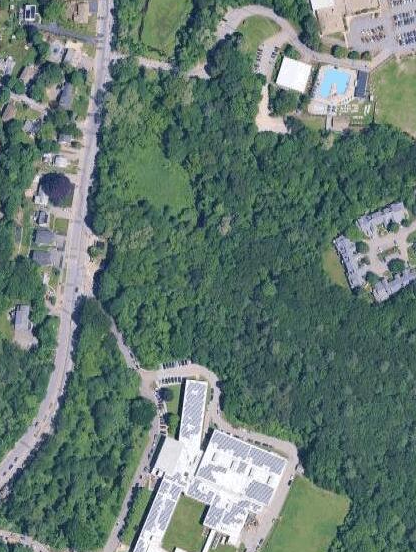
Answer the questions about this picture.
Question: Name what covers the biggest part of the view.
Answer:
trees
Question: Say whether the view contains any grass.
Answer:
Yes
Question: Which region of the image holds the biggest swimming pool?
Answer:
top right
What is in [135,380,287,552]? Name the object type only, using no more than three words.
building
